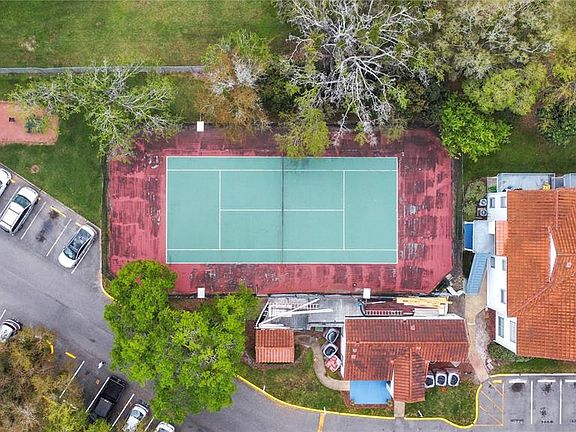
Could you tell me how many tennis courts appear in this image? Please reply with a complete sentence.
The picture shows 1 tennis court.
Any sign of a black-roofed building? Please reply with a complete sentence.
No, I find no black-roofed building anywhere in the image.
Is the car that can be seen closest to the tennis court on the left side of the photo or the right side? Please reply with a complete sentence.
The car that can be seen closest to the tennis court appears in the left half of the scene.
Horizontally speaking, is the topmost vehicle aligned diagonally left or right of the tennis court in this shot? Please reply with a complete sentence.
The topmost vehicle aligned diagonally can be seen on the left of the tennis court.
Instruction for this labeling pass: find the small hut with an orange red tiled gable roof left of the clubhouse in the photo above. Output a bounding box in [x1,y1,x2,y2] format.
[255,326,294,364]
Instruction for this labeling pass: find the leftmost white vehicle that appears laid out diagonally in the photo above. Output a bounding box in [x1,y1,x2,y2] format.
[0,185,38,237]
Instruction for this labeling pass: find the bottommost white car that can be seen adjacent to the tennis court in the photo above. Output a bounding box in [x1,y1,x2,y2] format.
[57,224,97,271]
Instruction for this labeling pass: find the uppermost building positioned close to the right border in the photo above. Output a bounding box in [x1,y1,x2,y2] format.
[464,189,576,358]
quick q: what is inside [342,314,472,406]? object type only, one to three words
building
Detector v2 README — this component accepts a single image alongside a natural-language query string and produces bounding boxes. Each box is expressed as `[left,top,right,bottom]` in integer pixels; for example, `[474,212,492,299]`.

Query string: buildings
[464,189,576,358]
[342,314,472,406]
[255,326,294,364]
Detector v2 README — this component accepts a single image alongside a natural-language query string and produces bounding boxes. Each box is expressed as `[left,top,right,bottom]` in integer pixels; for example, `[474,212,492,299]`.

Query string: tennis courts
[107,131,453,296]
